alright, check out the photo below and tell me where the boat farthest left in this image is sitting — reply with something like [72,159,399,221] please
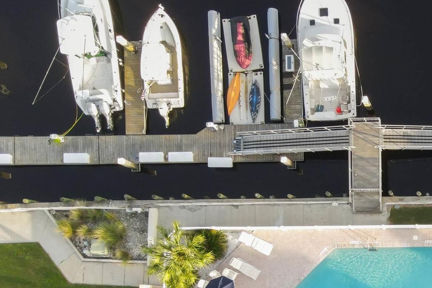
[33,0,124,136]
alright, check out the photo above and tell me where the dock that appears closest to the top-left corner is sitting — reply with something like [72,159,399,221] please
[124,40,147,135]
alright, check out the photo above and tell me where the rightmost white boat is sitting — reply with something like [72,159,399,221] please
[294,0,356,123]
